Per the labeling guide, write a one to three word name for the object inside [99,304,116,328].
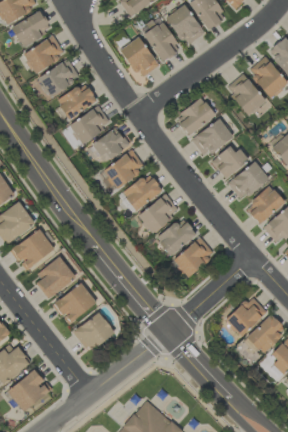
swimming pool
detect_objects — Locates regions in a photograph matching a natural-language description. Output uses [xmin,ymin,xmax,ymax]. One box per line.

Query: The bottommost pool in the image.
[221,326,236,346]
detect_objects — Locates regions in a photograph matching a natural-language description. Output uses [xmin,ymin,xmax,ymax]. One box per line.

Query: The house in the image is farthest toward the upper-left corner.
[0,0,37,24]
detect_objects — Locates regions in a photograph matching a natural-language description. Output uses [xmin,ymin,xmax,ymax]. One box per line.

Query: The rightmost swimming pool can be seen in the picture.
[269,122,288,137]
